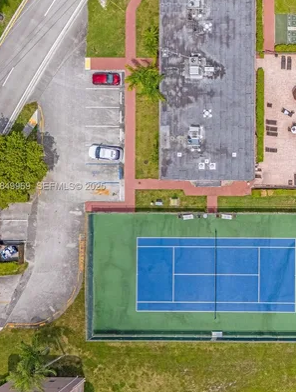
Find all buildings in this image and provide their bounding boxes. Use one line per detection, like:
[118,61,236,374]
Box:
[0,378,85,392]
[160,0,257,186]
